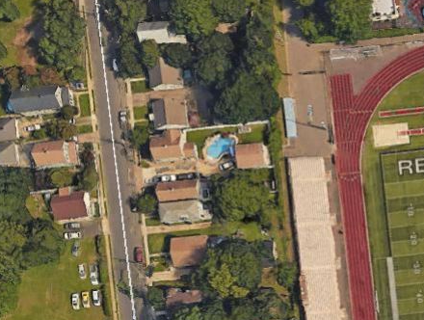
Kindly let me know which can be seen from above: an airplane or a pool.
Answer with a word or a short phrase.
pool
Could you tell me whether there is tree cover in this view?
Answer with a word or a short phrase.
Yes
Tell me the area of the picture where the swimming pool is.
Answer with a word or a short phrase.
center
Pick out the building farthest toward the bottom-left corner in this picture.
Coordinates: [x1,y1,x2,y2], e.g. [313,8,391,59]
[42,186,98,221]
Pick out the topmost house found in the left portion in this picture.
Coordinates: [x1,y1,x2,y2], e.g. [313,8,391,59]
[138,22,175,44]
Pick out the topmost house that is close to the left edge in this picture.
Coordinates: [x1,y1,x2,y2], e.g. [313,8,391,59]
[0,85,81,115]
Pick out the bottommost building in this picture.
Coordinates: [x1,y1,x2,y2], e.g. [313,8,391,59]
[166,286,214,305]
